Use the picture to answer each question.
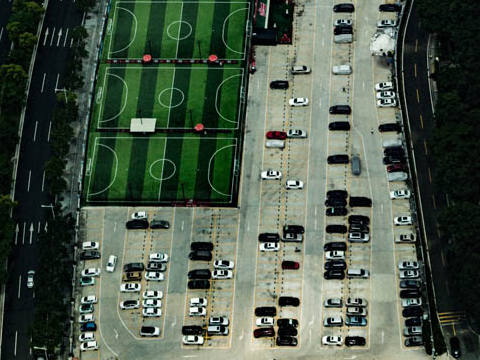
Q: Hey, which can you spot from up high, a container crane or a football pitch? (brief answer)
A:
football pitch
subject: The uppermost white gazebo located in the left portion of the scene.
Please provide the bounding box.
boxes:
[130,118,156,138]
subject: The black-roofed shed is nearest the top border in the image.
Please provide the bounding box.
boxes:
[251,27,272,44]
